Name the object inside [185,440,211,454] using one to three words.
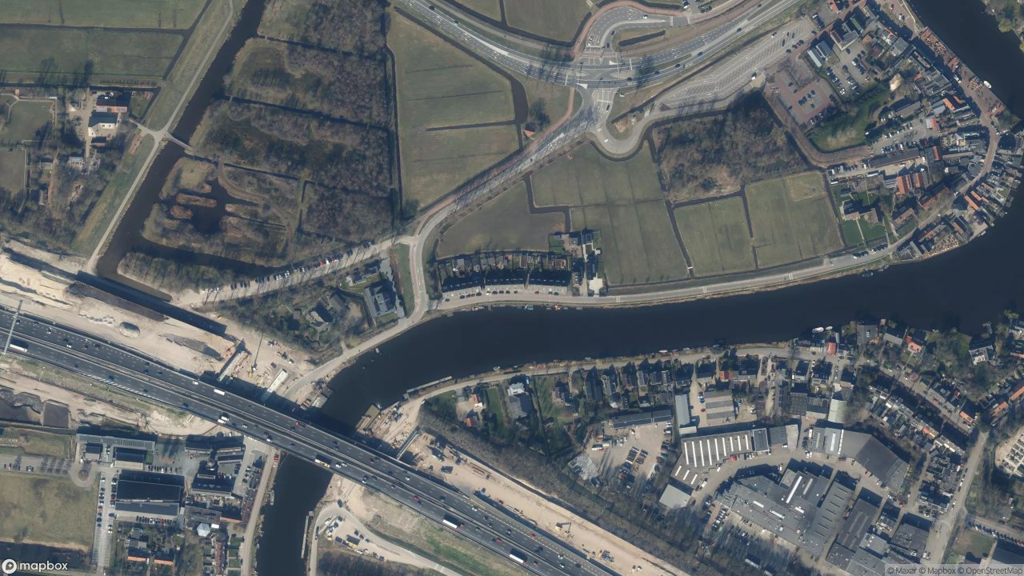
house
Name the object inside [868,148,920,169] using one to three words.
house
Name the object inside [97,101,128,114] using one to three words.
building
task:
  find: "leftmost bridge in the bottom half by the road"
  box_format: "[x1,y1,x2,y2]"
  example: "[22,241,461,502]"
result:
[222,390,419,504]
